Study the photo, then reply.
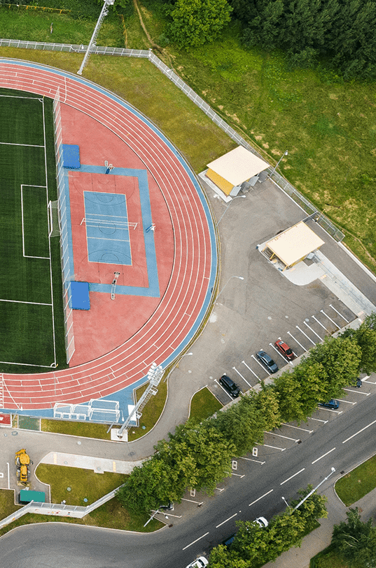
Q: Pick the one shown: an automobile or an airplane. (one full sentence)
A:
The one in the frame is an automobile.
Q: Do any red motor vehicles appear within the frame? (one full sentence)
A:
Yes, a red motor vehicle appears in the view.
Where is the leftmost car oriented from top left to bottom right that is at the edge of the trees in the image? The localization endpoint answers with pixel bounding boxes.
[219,373,242,397]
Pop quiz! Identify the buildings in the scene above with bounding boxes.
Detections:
[263,221,325,273]
[205,146,269,191]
